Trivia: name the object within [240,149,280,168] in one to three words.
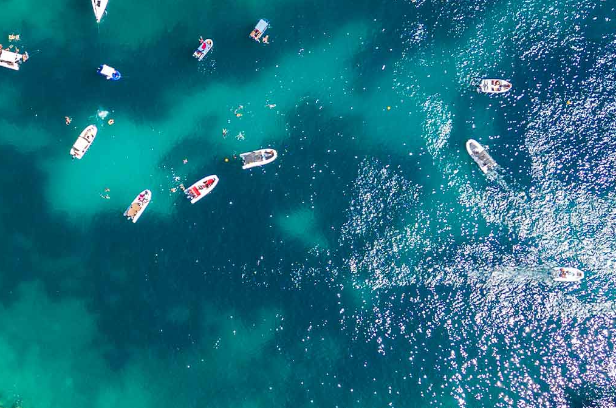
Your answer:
boat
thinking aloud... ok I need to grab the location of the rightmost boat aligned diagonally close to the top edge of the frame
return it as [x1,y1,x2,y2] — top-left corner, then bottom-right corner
[248,17,271,42]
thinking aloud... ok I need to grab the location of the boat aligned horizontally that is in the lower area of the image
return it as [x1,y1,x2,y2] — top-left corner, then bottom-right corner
[551,268,585,282]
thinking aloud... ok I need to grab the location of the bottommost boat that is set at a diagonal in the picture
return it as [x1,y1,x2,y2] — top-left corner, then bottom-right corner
[123,190,152,223]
